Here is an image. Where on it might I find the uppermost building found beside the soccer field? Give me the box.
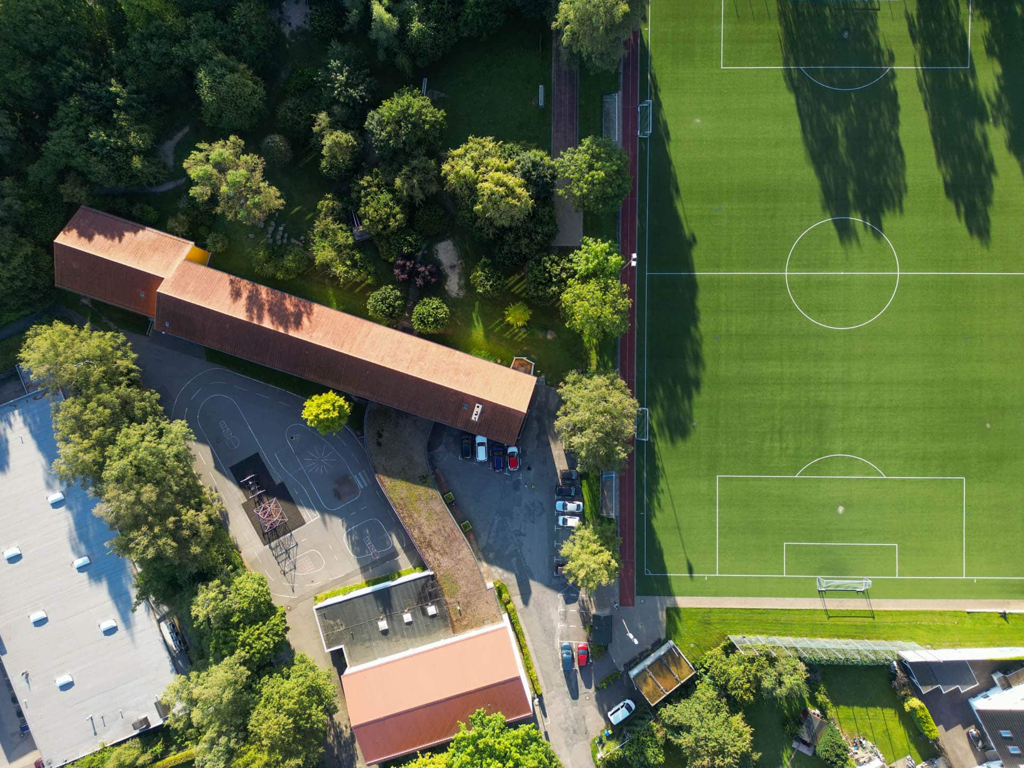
[154,259,537,446]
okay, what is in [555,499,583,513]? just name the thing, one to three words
car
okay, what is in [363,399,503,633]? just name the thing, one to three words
building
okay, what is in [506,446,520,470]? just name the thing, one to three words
car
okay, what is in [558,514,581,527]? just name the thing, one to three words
vehicle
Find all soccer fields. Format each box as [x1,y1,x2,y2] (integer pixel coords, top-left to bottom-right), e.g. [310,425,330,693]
[636,0,1024,598]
